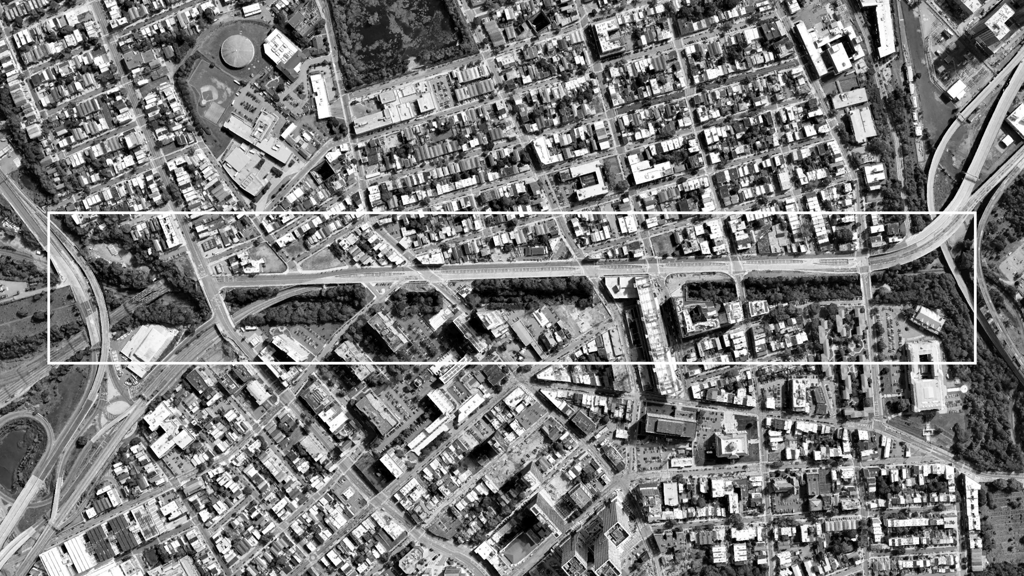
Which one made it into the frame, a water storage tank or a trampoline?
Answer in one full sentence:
Visible in the photo is a water storage tank.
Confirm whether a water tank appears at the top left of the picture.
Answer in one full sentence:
Yes, you'll find a water tank at the top left of the picture.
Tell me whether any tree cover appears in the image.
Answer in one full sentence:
Yes, some tree cover is visible.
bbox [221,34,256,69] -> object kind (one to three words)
water tank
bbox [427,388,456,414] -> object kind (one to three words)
building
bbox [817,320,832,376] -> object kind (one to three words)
building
